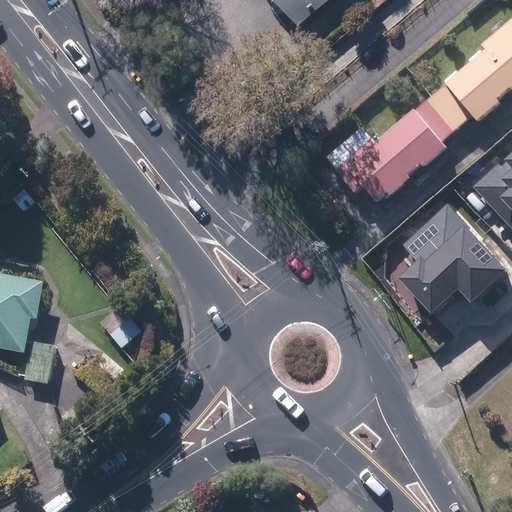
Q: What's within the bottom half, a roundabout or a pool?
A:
roundabout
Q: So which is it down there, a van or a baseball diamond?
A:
van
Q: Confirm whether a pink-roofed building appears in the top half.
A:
Yes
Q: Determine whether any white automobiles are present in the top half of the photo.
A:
Yes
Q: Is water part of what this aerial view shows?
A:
No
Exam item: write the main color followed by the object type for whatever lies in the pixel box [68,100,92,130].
white car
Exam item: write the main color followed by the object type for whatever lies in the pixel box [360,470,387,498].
white car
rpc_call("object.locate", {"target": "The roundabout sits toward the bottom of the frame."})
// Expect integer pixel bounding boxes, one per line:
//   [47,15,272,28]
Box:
[270,322,341,393]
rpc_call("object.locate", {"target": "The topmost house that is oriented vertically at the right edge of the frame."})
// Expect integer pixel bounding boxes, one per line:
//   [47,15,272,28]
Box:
[474,151,512,229]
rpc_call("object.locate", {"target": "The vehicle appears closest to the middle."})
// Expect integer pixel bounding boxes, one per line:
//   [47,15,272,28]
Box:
[286,252,312,279]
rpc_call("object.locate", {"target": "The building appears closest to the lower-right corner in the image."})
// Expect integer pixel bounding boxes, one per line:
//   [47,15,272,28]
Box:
[399,204,506,314]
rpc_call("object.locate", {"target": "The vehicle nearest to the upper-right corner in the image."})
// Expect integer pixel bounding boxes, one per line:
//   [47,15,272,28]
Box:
[465,191,493,220]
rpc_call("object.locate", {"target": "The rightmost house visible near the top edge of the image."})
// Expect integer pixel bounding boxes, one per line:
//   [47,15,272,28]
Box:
[428,21,512,130]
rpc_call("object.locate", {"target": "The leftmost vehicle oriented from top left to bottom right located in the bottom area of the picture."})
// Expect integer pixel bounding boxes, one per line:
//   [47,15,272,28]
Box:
[207,305,230,334]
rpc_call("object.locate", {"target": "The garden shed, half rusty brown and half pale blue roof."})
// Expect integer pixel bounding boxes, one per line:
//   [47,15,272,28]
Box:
[100,312,140,348]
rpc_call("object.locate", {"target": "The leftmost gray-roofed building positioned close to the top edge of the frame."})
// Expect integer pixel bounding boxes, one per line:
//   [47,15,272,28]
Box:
[270,0,328,34]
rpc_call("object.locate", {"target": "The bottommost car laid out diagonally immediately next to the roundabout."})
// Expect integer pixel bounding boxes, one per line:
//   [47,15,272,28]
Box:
[274,388,303,417]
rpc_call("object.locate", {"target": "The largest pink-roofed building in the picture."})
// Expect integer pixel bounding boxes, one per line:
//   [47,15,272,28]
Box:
[336,100,456,202]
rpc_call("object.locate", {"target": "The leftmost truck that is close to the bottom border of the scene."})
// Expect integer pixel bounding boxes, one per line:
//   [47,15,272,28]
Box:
[40,486,74,512]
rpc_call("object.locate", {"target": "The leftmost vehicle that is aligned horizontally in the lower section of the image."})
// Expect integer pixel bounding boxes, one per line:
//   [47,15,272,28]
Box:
[224,438,256,454]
